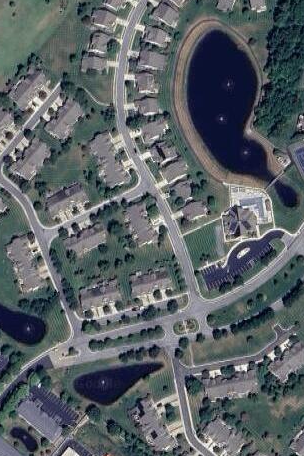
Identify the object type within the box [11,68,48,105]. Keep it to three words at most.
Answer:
house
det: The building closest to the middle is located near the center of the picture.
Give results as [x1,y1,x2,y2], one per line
[120,204,157,252]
